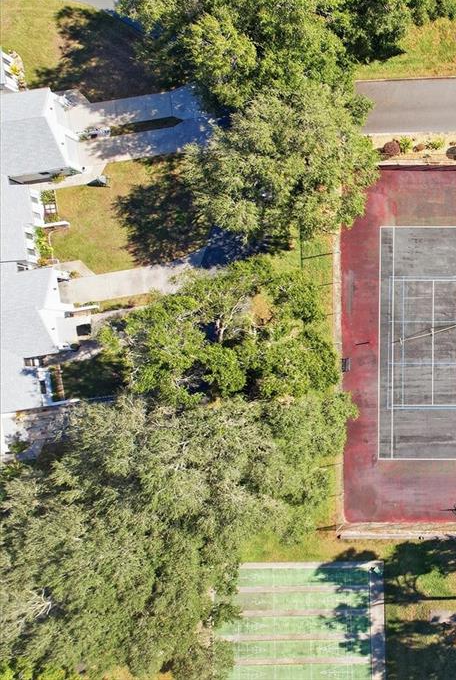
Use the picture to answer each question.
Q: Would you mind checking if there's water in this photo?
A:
No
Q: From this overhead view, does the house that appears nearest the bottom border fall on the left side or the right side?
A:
left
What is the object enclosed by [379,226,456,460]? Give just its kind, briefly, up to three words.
tennis court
